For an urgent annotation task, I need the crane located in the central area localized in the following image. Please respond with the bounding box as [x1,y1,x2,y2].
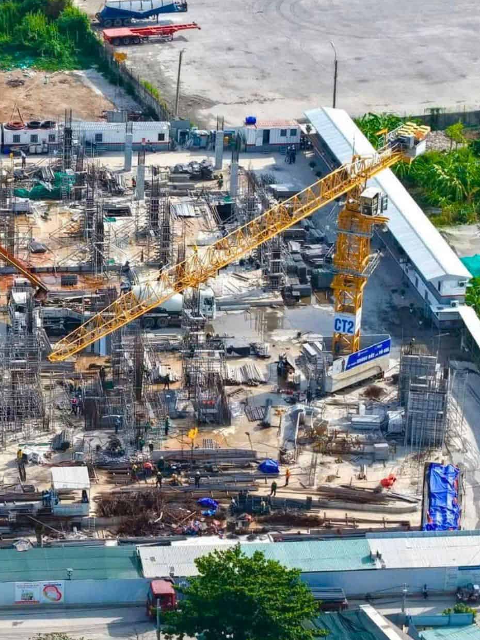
[51,132,422,384]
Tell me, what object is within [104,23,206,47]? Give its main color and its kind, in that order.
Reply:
red trailer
